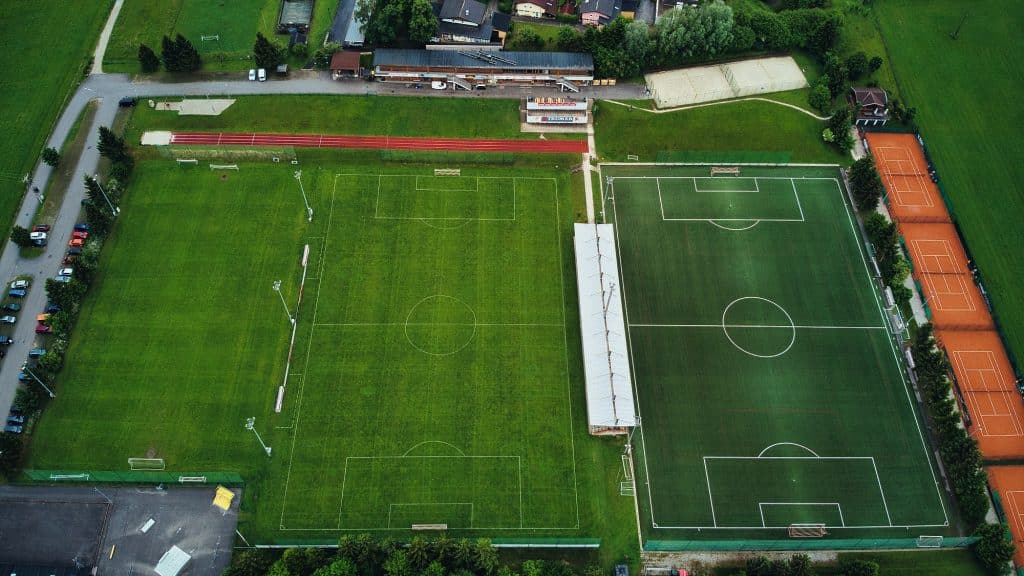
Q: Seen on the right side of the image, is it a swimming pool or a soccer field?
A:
soccer field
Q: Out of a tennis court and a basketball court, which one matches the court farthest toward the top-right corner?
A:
tennis court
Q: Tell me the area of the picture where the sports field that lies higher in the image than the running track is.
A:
top left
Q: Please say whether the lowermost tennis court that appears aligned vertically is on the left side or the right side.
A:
right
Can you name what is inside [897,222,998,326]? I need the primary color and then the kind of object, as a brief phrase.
orange tennis court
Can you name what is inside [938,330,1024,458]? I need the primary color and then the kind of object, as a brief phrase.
orange tennis court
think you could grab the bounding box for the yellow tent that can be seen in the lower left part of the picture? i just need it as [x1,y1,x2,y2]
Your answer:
[210,484,236,512]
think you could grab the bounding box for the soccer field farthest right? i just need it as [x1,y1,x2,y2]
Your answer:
[597,163,973,549]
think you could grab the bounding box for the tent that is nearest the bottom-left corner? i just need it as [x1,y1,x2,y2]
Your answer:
[151,542,197,576]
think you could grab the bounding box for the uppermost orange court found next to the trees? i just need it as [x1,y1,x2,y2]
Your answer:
[863,133,952,219]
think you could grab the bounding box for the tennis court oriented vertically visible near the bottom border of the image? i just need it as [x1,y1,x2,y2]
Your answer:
[989,463,1024,555]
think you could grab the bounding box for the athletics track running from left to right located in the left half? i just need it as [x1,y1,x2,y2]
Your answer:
[167,134,589,152]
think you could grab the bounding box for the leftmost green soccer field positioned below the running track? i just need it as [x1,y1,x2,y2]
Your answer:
[262,162,637,551]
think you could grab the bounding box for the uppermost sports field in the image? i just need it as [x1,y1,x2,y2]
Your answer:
[112,0,267,58]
